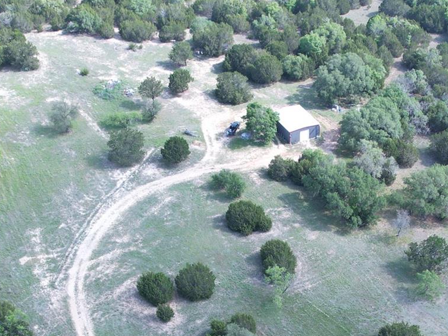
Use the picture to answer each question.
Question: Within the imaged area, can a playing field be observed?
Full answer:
No, the picture doesn't show any playing field.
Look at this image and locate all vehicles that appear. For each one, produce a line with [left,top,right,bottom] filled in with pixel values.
[219,123,241,136]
